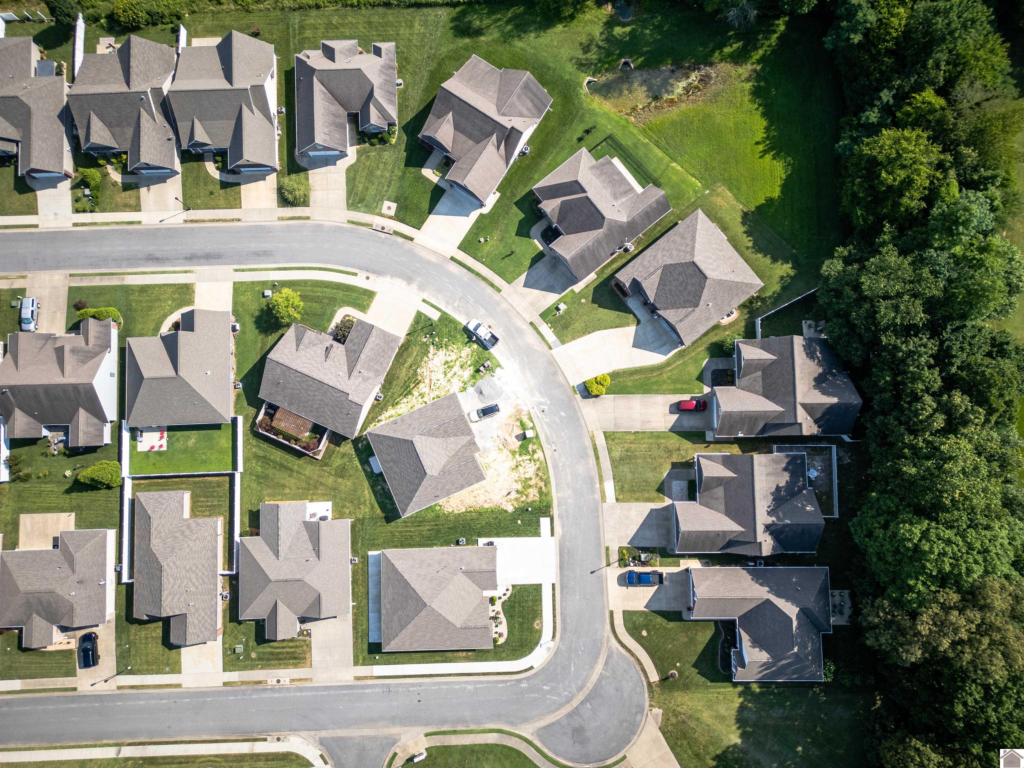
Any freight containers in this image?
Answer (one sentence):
No, I can see no freight container in this picture.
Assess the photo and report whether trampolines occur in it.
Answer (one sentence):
No, no trampoline can be seen from above.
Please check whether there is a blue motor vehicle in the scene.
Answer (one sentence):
Yes, a blue motor vehicle is visible in the scene.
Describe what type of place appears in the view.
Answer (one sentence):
The picture captures a residential area.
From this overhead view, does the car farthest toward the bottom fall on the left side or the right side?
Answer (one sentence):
The car farthest toward the bottom appears in the left half of the scene.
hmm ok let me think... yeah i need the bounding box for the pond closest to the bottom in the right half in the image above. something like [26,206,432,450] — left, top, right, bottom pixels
[590,66,695,112]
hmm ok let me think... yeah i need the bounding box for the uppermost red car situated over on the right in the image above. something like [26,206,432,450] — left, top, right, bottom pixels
[675,398,706,413]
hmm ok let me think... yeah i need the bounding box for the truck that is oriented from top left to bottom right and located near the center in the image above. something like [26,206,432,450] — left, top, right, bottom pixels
[465,317,500,350]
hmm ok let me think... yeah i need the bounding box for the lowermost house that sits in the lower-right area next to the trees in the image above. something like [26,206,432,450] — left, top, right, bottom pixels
[687,564,832,682]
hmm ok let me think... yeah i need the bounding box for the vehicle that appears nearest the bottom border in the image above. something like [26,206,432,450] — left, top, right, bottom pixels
[79,633,99,668]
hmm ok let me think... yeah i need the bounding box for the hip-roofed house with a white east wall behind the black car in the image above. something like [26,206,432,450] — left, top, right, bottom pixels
[0,528,114,653]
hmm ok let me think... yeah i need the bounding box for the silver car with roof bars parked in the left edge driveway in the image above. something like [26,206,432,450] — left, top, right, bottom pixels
[18,297,39,331]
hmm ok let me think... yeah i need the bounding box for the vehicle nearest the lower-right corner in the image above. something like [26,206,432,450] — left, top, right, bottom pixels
[626,571,664,587]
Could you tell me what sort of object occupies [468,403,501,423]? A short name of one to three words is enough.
car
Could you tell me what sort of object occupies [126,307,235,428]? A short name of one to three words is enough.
house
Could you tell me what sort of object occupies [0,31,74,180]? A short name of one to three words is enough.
house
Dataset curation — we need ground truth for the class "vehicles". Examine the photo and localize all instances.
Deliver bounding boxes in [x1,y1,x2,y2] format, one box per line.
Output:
[626,571,664,587]
[468,403,501,423]
[79,633,99,668]
[675,398,706,413]
[18,297,39,331]
[465,317,500,350]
